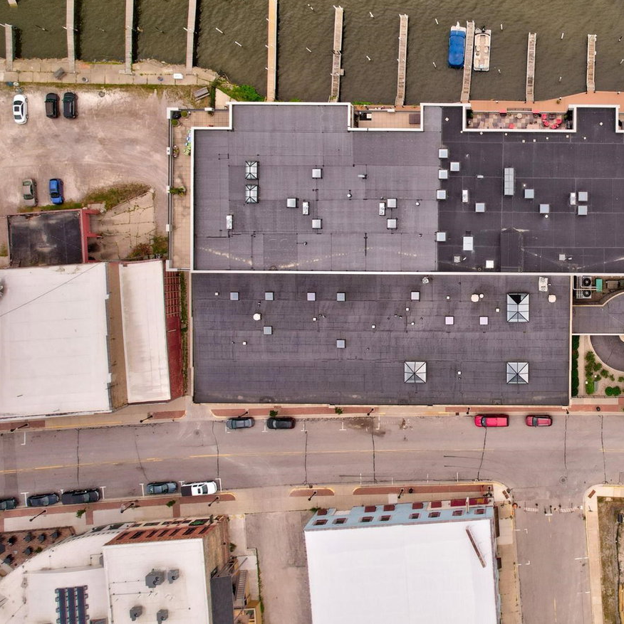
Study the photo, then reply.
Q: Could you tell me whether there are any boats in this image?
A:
Yes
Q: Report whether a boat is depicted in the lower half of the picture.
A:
No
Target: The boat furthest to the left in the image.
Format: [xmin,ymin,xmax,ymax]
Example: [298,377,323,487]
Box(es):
[447,23,466,70]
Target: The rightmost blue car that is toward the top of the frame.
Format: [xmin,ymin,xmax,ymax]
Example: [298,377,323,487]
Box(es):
[49,178,65,204]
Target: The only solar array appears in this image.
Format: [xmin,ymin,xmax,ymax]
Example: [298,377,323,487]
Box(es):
[56,585,90,624]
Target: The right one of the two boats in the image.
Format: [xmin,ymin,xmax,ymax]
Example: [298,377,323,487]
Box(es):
[475,27,493,73]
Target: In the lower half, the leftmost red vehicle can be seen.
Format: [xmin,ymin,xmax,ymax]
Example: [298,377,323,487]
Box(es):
[476,414,509,428]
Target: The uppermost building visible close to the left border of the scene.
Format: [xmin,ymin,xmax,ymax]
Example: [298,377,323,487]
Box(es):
[9,209,111,267]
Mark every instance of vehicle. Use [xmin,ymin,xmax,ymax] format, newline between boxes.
[0,496,19,512]
[180,481,219,497]
[62,93,79,119]
[61,487,102,505]
[30,492,60,506]
[43,93,60,119]
[149,481,178,495]
[22,178,39,206]
[527,415,553,428]
[476,414,509,428]
[12,95,30,123]
[269,417,296,430]
[49,178,65,204]
[228,417,256,430]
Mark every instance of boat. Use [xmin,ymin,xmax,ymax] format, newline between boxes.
[447,23,466,70]
[475,27,493,73]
